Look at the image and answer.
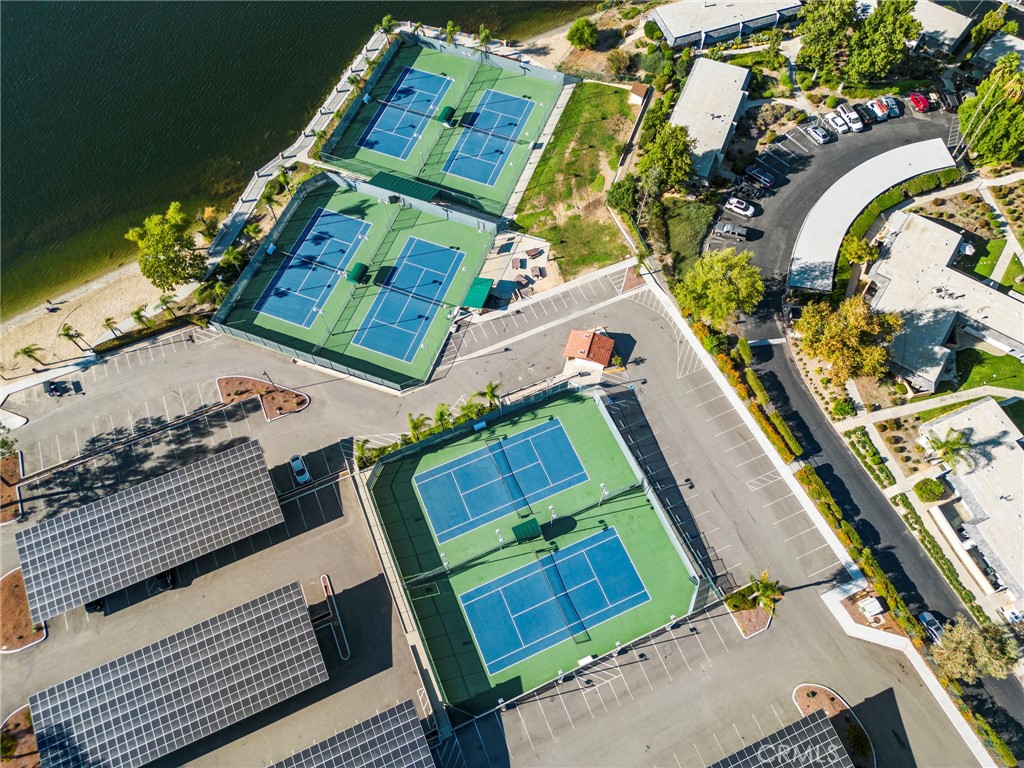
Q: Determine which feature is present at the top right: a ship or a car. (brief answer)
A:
car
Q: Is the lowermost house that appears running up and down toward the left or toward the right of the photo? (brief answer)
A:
right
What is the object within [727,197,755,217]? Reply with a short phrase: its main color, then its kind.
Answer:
white car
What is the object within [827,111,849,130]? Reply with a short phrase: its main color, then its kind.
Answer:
white car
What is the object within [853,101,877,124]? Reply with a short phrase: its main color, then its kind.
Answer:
black truck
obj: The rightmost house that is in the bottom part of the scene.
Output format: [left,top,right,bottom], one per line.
[913,395,1024,619]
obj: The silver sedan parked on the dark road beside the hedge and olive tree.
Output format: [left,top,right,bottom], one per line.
[920,609,950,641]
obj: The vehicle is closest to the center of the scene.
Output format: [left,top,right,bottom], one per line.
[288,455,310,486]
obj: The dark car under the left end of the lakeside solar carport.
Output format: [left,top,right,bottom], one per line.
[82,599,106,623]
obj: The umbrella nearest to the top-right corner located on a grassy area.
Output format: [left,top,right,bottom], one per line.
[957,242,975,258]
